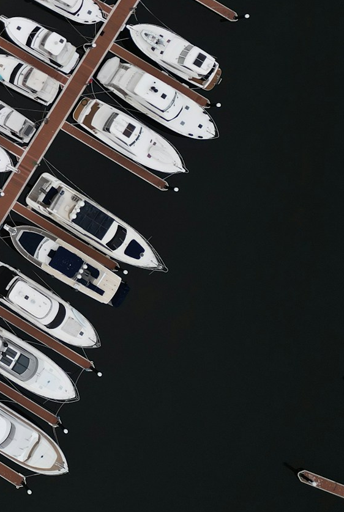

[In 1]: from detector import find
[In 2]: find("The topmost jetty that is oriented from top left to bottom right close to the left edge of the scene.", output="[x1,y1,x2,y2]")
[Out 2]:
[0,36,71,87]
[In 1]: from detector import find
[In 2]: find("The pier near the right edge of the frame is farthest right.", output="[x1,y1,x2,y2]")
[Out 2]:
[296,471,344,497]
